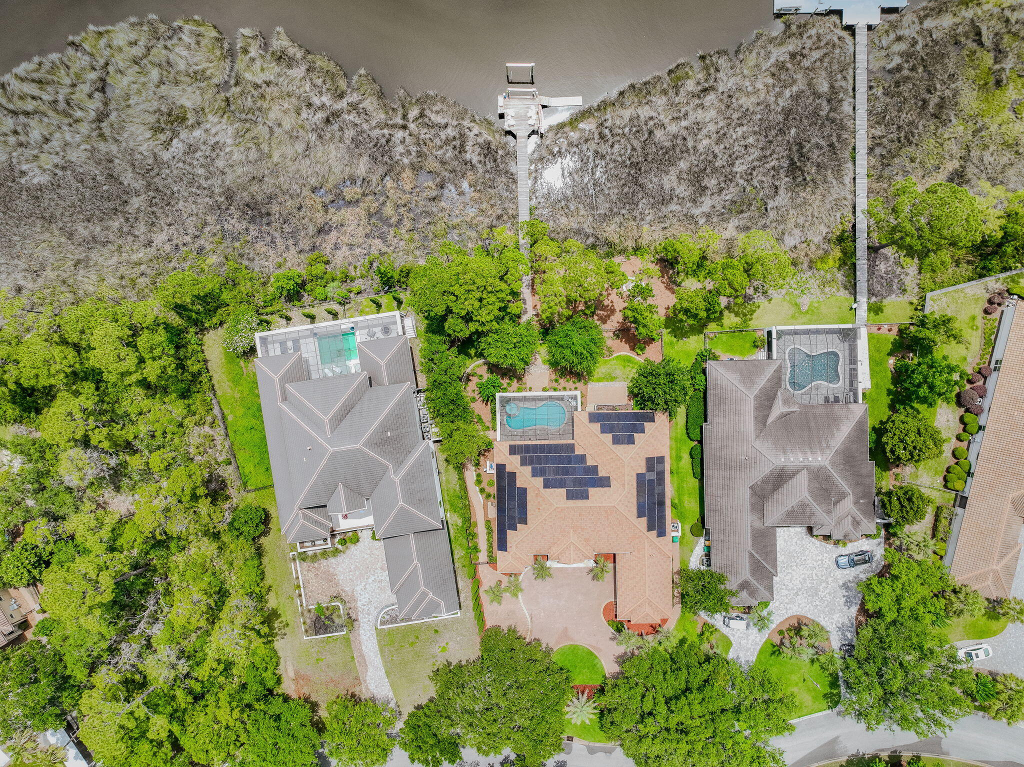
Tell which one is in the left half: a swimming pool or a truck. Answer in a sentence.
Looking in the left half, you will find a swimming pool.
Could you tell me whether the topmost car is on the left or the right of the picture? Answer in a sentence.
It is on the right.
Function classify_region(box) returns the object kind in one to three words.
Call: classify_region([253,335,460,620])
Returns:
house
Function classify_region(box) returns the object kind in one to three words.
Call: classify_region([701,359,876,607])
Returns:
house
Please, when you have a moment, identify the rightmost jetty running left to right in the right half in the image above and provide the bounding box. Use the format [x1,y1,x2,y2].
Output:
[763,0,910,38]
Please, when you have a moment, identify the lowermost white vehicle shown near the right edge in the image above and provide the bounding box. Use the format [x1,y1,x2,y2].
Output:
[956,641,994,663]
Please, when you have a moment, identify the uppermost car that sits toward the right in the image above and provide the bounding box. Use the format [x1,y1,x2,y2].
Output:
[833,549,872,570]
